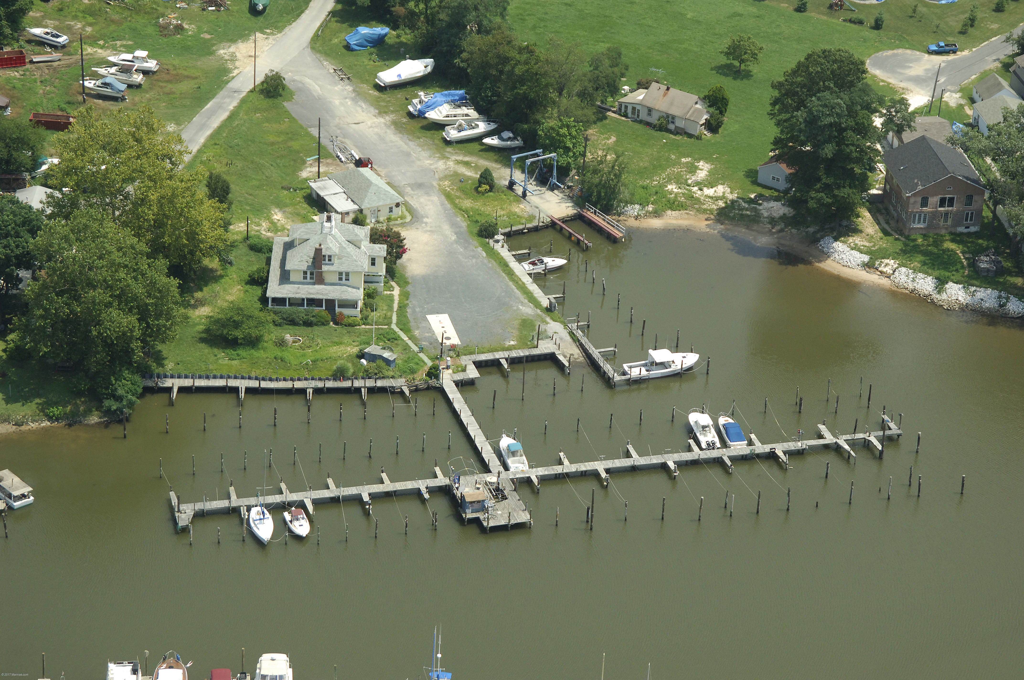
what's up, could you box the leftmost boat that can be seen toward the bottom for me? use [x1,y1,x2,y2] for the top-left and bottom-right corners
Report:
[0,461,36,513]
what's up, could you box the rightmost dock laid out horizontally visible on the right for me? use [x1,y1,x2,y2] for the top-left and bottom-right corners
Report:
[837,430,904,442]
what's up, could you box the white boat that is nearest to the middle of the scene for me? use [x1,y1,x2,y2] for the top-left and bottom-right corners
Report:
[523,257,567,273]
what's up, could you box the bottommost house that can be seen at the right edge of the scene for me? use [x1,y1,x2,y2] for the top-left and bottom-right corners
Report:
[886,140,989,235]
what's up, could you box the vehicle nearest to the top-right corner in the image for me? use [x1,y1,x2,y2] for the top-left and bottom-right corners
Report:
[925,43,958,57]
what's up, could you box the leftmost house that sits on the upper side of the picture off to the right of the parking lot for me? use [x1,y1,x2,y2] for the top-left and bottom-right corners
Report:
[616,82,720,137]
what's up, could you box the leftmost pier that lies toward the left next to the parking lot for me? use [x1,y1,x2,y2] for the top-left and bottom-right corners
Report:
[180,478,453,516]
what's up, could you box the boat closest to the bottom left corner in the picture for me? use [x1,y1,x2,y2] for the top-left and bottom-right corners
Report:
[105,660,143,680]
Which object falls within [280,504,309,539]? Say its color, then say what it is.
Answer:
white boat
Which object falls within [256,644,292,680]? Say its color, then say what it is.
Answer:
white boat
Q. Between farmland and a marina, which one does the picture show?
marina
